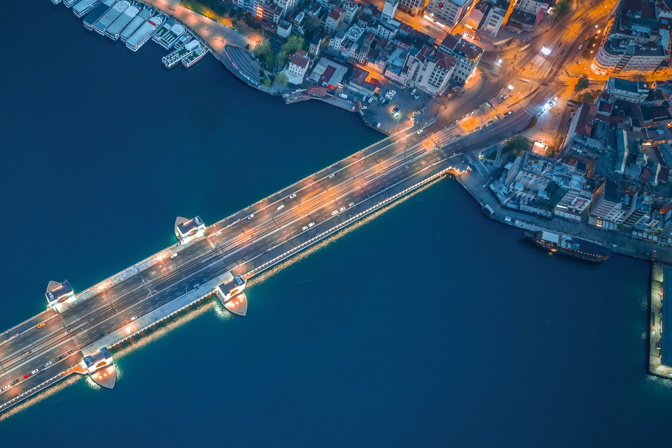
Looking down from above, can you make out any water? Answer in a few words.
Yes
